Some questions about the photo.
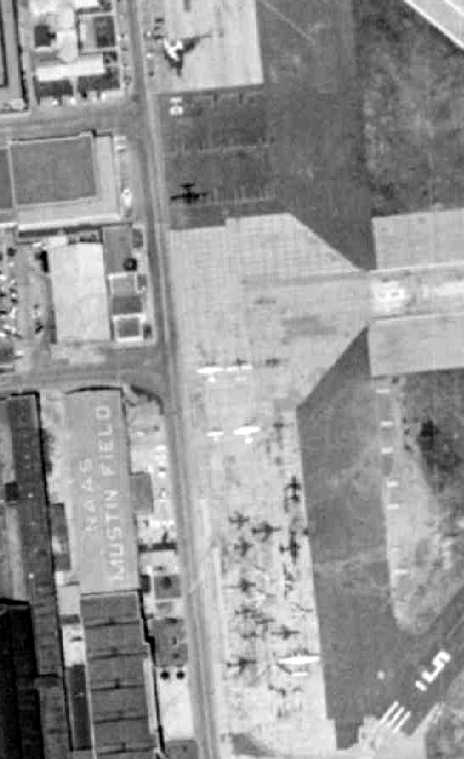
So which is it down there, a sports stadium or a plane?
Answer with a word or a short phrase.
plane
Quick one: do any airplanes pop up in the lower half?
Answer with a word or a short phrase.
Yes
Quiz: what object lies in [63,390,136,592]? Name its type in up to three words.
hangar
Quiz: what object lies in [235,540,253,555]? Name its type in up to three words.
airplane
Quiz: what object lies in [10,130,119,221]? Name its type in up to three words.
building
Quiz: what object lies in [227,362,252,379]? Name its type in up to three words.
airplane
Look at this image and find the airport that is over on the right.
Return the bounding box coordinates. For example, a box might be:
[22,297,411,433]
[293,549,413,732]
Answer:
[147,0,464,759]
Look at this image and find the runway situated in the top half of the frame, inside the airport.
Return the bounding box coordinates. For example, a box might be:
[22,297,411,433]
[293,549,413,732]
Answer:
[334,208,464,376]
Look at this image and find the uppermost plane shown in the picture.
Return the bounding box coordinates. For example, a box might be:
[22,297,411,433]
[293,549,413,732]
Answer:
[170,179,206,202]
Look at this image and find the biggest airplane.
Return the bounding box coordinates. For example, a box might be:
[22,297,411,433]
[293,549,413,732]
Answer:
[278,651,319,677]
